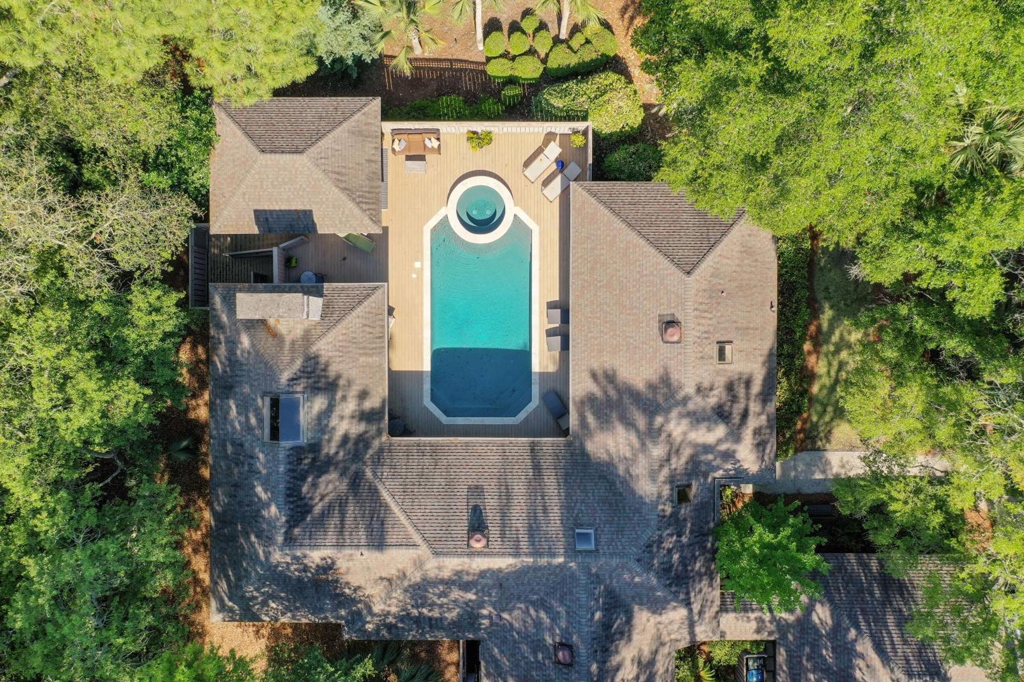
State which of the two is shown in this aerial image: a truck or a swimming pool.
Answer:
swimming pool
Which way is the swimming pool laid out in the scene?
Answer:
up and down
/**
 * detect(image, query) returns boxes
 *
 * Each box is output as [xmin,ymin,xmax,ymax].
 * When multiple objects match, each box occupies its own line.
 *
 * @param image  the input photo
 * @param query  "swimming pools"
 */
[424,176,539,424]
